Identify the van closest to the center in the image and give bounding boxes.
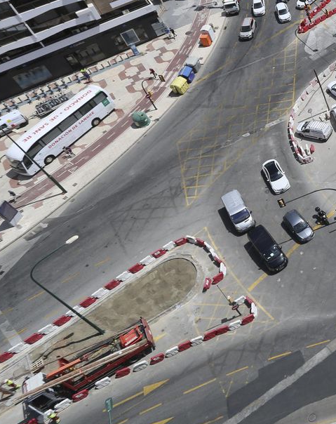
[222,191,256,234]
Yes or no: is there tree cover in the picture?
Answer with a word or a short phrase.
No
